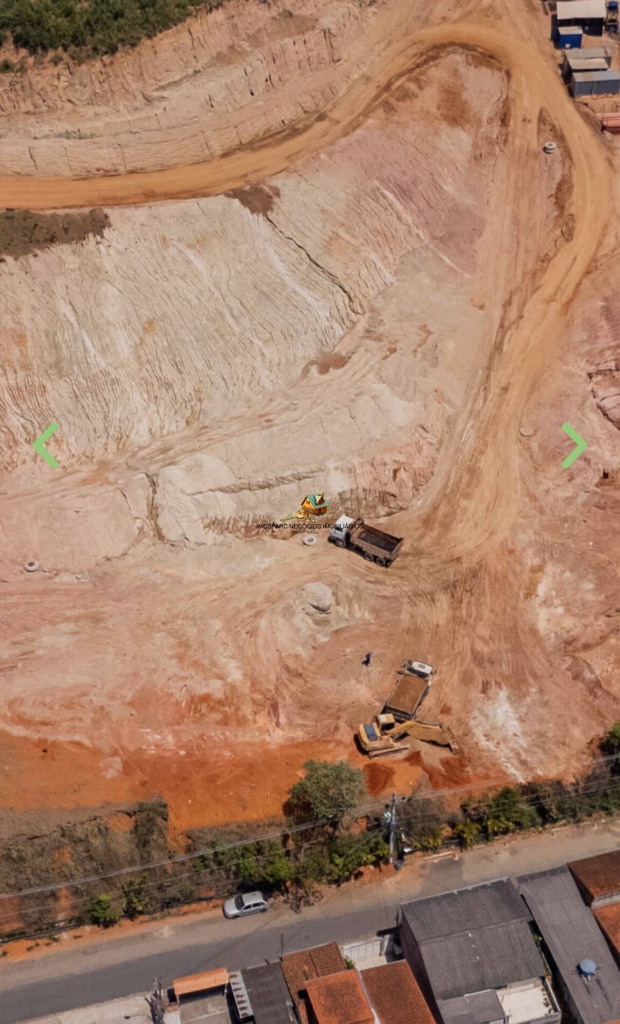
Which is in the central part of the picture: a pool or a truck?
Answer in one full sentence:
It is a truck that can be seen in the central part of the picture.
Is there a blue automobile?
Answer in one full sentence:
No, I can see no blue automobile in this picture.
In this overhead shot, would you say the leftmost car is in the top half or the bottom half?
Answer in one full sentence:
The leftmost car sits in the bottom half of the picture.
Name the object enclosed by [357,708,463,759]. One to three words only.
work vehicle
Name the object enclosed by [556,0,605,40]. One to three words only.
shed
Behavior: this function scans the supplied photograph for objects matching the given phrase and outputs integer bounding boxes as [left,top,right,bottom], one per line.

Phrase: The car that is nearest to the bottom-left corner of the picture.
[221,888,272,919]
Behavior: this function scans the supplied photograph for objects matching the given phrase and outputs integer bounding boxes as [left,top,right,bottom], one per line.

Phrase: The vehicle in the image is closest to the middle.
[326,513,406,568]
